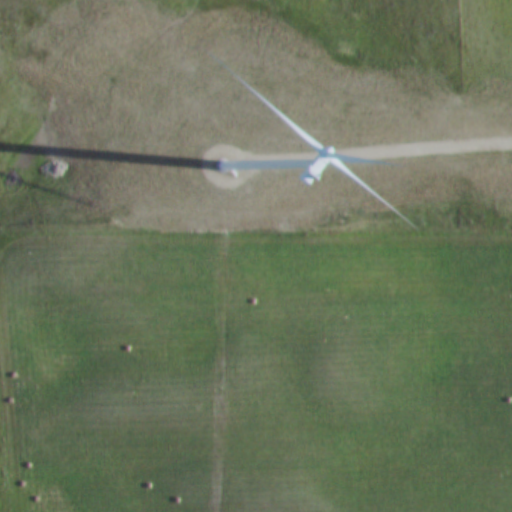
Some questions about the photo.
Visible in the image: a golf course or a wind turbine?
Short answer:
wind turbine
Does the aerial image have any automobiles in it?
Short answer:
No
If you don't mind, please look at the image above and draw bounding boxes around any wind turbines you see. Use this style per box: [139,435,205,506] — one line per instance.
[206,51,418,230]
